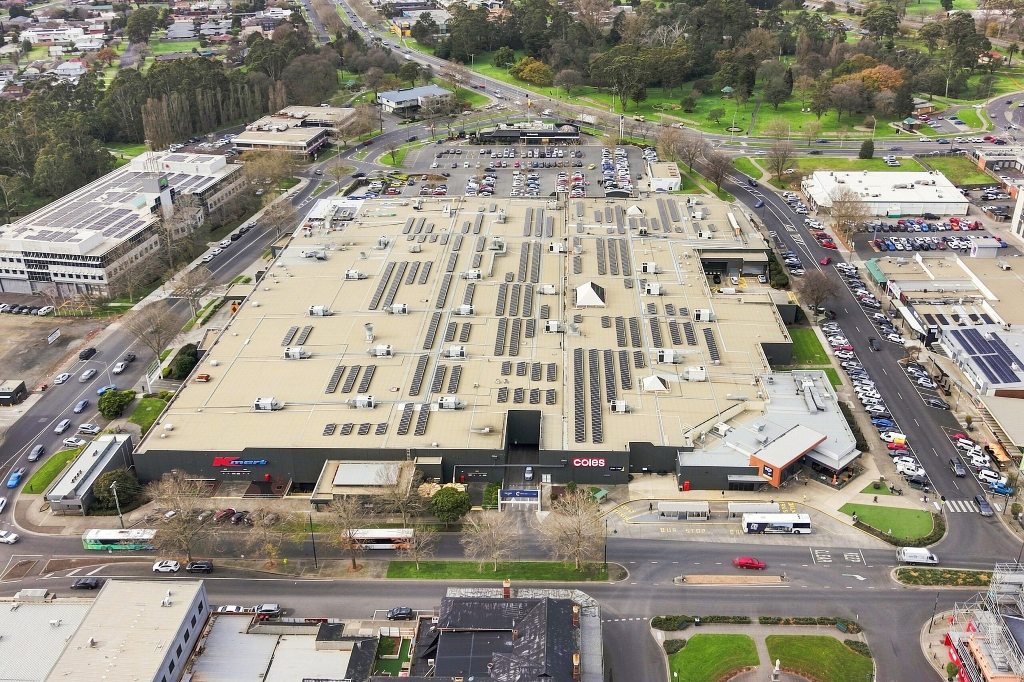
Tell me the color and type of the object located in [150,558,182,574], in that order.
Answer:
white car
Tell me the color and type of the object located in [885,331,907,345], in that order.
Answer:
white car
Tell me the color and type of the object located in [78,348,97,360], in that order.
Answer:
black vehicle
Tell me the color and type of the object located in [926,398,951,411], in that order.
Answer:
gray vehicle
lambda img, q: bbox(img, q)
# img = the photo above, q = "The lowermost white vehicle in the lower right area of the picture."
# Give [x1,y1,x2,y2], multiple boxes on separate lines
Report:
[896,544,938,566]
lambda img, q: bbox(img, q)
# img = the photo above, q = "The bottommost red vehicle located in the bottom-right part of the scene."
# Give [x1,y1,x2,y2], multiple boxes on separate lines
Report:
[734,556,765,570]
